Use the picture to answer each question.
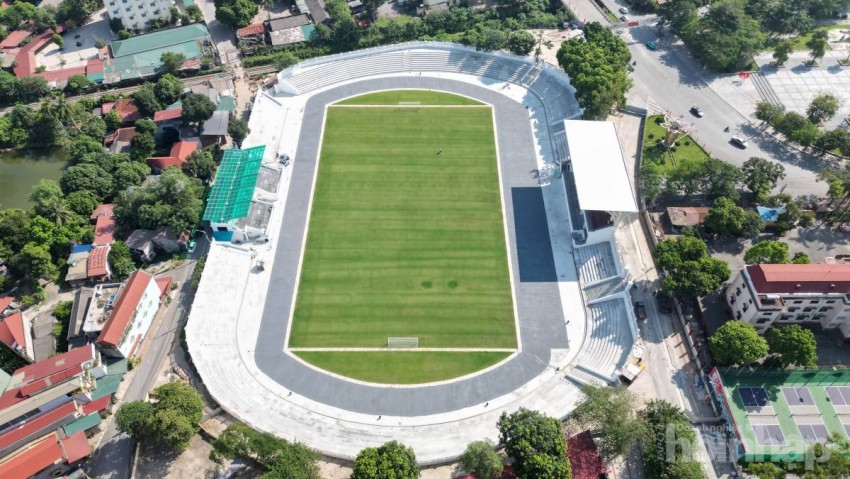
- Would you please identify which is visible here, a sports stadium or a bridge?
sports stadium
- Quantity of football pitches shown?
one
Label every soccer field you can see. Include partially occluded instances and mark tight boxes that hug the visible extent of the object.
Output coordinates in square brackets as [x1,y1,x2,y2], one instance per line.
[285,88,520,387]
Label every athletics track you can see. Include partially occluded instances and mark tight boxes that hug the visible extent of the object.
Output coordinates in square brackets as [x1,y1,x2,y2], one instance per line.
[255,76,569,416]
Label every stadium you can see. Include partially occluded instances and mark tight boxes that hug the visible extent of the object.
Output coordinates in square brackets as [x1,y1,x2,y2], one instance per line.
[182,43,637,467]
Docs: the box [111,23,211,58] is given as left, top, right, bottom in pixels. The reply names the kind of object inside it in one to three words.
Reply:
building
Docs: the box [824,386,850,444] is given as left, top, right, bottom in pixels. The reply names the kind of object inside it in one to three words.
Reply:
sports court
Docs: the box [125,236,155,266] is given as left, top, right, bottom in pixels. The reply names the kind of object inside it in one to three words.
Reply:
house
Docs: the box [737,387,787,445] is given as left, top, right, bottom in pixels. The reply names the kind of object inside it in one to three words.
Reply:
sports court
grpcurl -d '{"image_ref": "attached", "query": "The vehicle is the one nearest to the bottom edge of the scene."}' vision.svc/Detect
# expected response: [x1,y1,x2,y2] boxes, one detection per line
[623,361,643,380]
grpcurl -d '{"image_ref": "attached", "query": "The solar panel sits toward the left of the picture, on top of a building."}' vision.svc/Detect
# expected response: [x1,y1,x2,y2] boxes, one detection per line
[0,406,41,430]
